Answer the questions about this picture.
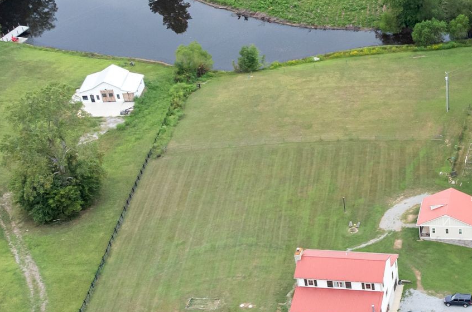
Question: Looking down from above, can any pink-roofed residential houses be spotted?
Yes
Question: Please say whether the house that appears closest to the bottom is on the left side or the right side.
right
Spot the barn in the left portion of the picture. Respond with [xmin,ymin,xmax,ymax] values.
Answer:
[79,64,148,103]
